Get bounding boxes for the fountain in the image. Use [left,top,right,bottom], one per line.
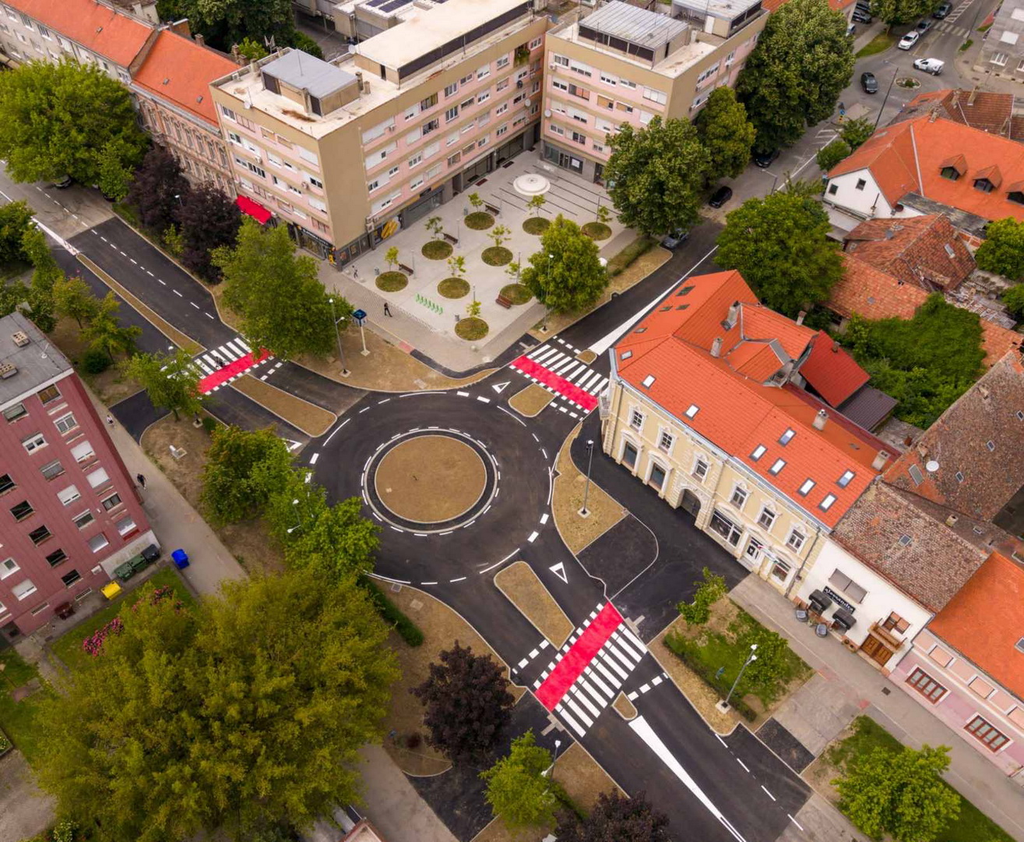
[513,173,551,196]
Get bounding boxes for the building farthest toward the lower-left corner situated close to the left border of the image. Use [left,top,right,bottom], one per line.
[0,295,162,666]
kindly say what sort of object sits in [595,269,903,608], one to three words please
house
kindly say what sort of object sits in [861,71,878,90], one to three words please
car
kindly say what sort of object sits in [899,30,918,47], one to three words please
car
